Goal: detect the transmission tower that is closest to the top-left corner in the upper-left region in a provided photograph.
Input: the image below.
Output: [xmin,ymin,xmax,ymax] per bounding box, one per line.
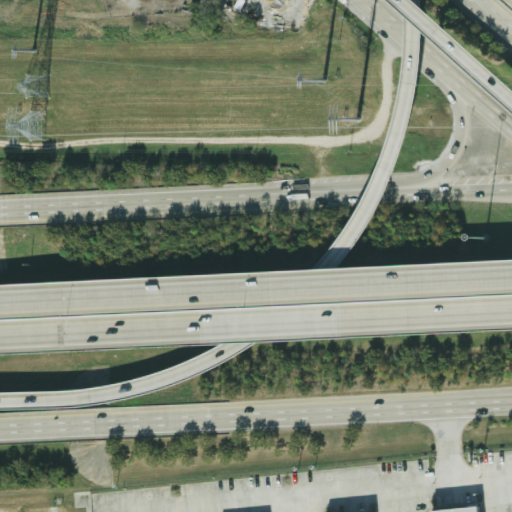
[17,75,52,100]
